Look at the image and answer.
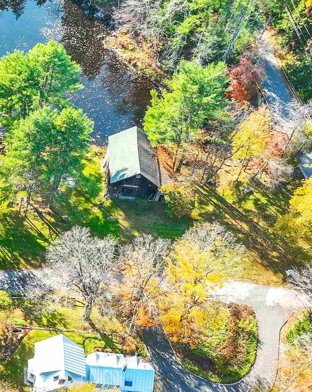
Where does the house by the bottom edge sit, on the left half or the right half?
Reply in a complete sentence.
You can find the house by the bottom edge on the left side of the picture.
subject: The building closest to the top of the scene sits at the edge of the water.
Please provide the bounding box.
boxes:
[103,123,173,204]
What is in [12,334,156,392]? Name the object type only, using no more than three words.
house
